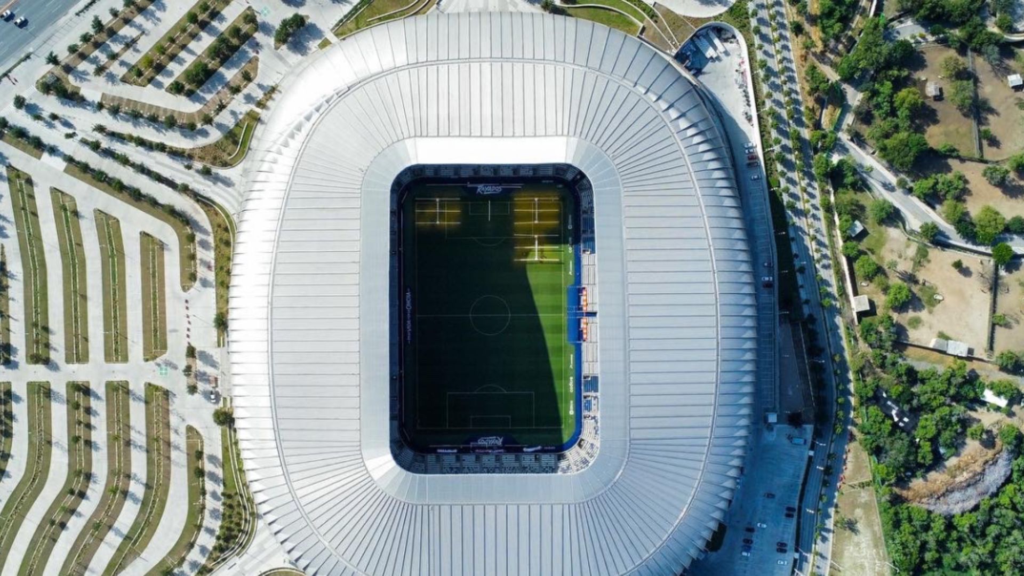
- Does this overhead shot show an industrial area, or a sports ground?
sports ground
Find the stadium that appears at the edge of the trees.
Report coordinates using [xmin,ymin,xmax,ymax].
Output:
[227,13,758,576]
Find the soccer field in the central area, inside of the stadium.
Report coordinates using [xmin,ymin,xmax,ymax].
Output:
[399,177,580,452]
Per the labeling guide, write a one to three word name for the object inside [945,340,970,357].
shed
